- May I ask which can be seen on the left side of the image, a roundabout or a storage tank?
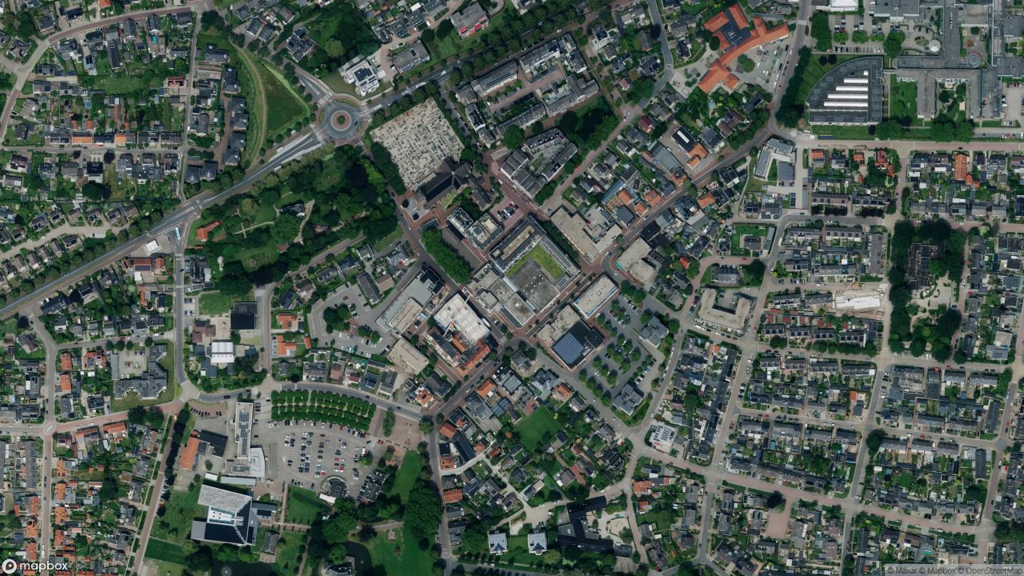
roundabout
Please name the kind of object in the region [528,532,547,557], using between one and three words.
house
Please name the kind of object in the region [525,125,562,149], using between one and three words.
building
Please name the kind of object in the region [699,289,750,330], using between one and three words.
building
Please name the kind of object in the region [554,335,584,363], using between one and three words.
solar array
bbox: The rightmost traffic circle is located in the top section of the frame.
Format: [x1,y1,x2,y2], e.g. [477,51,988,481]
[316,95,366,145]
